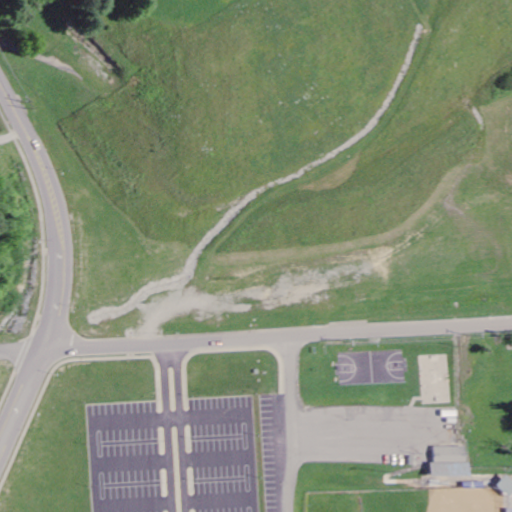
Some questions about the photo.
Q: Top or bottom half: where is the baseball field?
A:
bottom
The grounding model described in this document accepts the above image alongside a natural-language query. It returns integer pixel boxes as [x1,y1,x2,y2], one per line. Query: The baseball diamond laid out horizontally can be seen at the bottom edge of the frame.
[310,488,502,512]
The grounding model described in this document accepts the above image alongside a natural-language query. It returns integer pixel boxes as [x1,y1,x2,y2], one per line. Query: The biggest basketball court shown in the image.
[335,350,408,386]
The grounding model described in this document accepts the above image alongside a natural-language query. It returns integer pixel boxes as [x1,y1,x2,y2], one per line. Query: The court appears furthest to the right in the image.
[418,354,451,404]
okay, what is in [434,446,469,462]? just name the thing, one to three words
shed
